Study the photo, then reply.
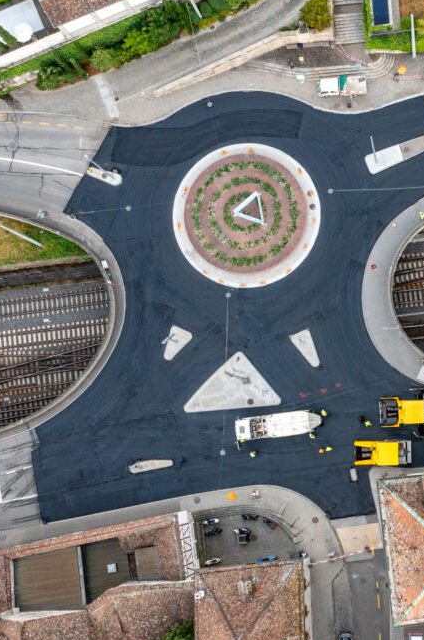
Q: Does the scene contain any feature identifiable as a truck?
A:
Yes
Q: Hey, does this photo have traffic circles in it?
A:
Yes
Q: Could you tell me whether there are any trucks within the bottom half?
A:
Yes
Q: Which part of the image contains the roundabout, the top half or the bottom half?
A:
top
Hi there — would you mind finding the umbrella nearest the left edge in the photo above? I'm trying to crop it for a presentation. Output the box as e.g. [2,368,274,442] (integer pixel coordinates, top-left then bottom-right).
[13,23,35,43]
